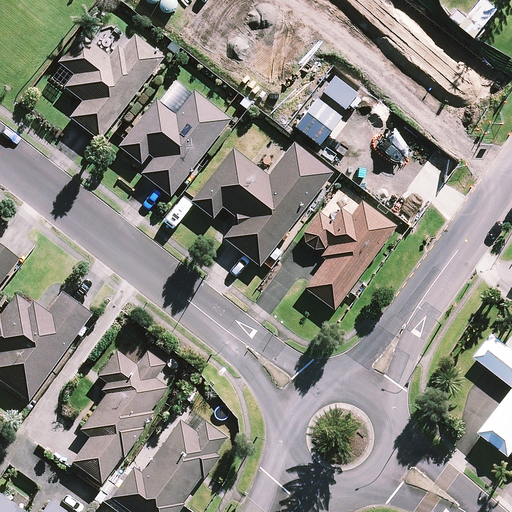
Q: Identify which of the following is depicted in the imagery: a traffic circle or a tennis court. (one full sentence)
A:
The image shows a traffic circle.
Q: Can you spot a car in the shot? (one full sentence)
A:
Yes, the photo shows a car.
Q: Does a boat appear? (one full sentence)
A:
Yes, there's a boat here.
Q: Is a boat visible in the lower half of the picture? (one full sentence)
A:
No, I see no boat in the lower half of the picture.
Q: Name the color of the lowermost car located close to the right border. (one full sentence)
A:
From above, the lowermost car located close to the right border appears black.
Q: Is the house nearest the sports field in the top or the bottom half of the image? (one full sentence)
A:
The house nearest the sports field is in the top half of the image.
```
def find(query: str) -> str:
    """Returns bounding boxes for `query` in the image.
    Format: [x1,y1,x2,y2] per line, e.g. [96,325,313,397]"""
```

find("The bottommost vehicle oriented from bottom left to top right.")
[76,276,94,298]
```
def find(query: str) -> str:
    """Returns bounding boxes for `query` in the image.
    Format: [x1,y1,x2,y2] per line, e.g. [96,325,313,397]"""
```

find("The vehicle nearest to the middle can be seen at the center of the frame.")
[228,255,248,278]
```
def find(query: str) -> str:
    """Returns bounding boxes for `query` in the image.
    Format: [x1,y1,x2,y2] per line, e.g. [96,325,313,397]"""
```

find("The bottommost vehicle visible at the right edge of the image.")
[484,222,504,246]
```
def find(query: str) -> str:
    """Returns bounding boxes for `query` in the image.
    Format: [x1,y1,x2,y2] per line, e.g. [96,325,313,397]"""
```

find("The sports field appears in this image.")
[0,0,98,111]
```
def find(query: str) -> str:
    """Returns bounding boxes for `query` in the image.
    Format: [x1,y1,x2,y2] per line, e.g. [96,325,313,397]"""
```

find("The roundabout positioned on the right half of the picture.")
[272,368,408,504]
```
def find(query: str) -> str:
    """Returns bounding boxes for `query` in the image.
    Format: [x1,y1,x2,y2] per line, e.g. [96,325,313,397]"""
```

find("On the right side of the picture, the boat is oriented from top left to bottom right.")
[375,134,408,160]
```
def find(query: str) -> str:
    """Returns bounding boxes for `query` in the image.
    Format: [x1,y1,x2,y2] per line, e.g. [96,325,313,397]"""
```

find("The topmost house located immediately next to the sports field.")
[60,34,166,139]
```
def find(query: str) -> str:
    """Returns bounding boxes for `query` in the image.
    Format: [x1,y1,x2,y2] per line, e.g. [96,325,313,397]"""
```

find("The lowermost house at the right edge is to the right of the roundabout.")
[478,386,512,456]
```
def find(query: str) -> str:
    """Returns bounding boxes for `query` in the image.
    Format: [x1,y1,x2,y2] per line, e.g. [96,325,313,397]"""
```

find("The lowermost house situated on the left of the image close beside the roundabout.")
[104,420,228,512]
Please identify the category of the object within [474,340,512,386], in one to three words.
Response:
house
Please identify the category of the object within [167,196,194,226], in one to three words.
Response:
camper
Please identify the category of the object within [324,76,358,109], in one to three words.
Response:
shed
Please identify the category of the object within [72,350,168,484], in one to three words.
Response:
house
